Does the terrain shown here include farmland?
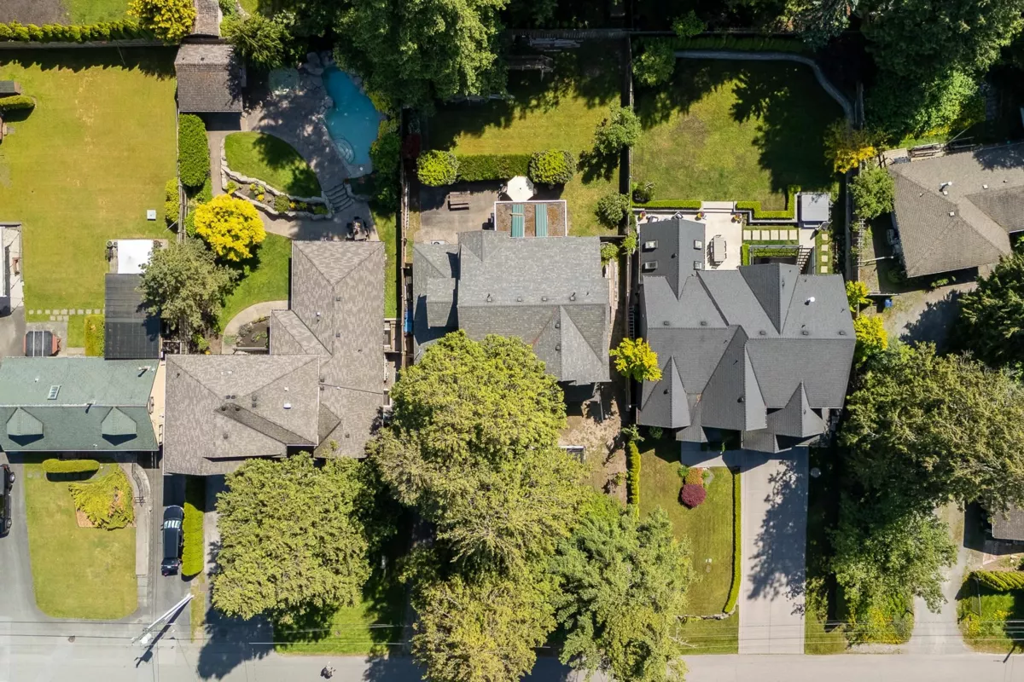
No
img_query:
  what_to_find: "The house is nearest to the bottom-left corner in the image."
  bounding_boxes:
[0,357,164,452]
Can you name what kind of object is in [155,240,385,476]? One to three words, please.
house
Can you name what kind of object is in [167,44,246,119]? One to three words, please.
shed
